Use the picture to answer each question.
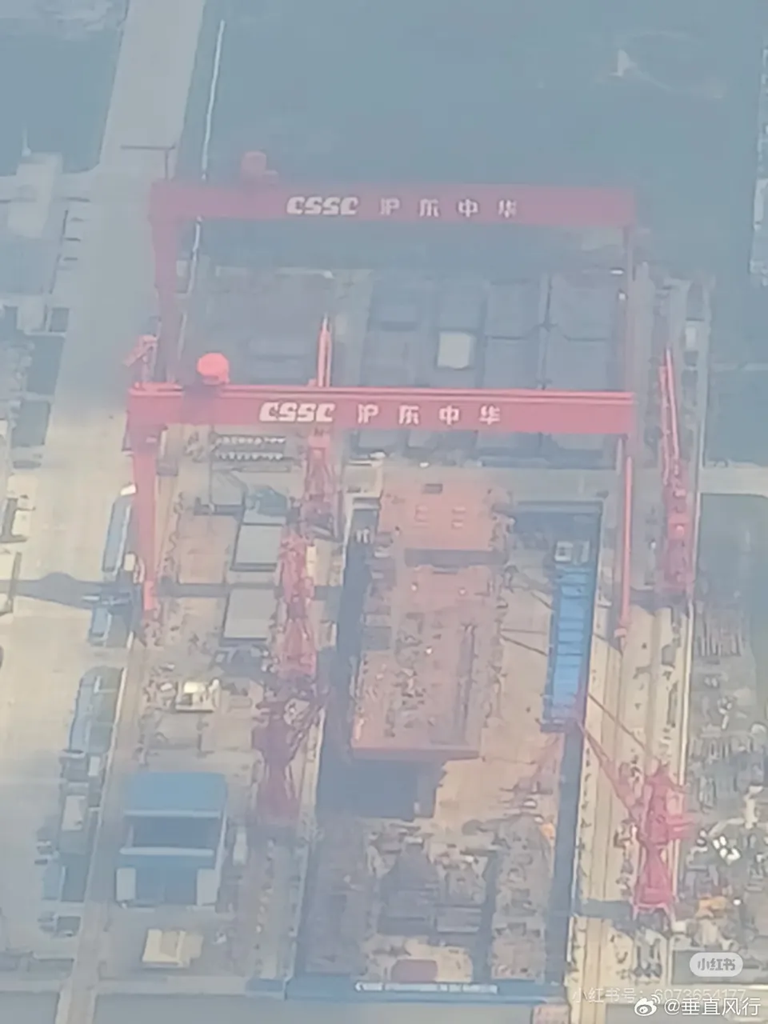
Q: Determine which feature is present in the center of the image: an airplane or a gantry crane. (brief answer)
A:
gantry crane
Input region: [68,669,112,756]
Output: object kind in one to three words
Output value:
shed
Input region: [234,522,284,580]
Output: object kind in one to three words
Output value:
shed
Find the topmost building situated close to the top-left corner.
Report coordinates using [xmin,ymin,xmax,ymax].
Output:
[6,86,66,239]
